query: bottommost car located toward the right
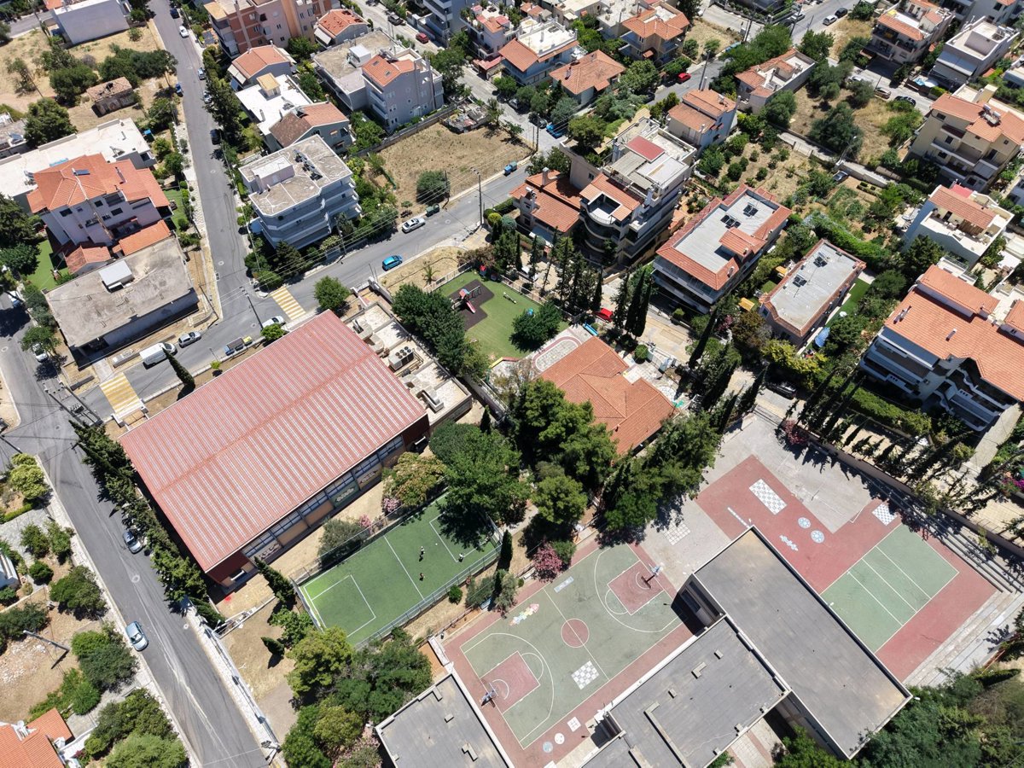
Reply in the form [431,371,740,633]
[765,378,793,396]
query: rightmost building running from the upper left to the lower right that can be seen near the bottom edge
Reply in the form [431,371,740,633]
[681,519,920,767]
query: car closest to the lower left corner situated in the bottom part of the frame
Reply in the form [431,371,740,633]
[122,620,145,648]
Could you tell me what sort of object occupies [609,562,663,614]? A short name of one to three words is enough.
sports court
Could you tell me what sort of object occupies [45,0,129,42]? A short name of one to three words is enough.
building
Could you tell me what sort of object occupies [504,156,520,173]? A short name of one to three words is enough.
vehicle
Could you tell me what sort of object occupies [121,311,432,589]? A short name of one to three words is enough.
building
